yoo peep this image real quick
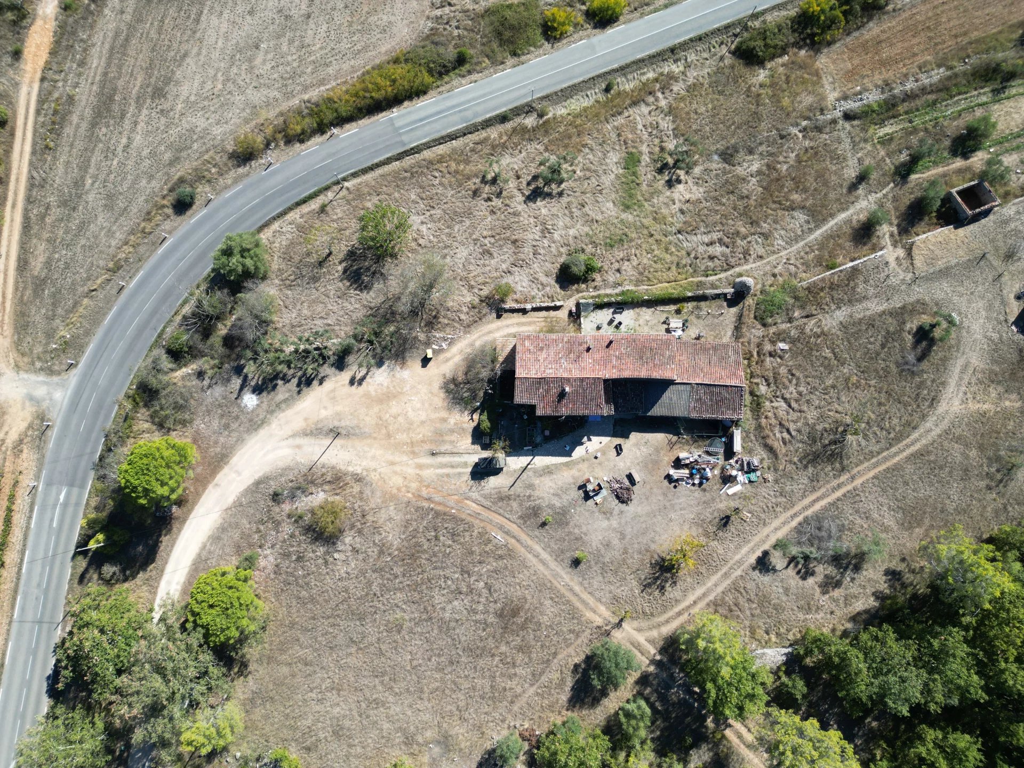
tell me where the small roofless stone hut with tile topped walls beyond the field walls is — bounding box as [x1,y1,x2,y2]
[941,180,999,232]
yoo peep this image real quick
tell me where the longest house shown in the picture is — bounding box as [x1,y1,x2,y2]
[513,333,746,420]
